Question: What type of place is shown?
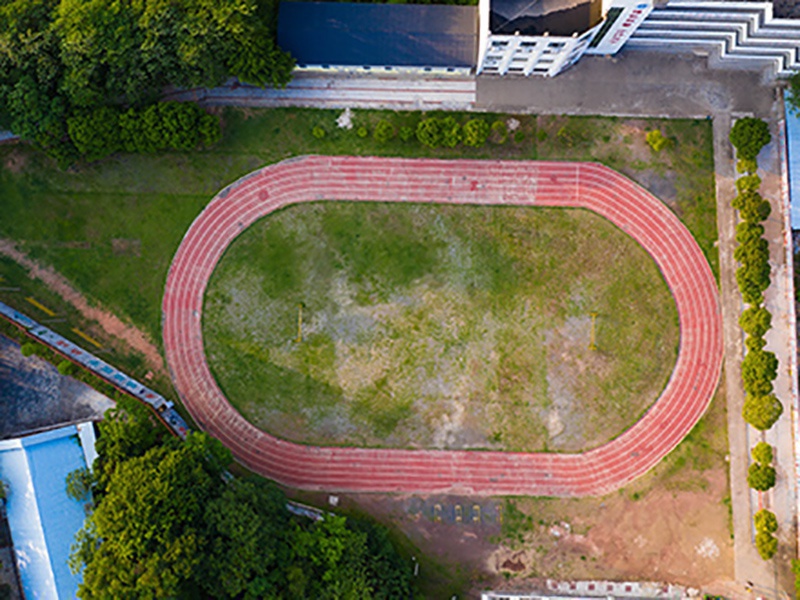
sports ground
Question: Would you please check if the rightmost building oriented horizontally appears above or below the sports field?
above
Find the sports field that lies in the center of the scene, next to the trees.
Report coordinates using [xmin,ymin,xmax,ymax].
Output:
[202,202,680,451]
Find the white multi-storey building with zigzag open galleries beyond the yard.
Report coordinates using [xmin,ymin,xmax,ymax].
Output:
[620,0,800,83]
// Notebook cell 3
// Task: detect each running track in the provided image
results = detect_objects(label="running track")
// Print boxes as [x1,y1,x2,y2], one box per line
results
[162,155,724,498]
